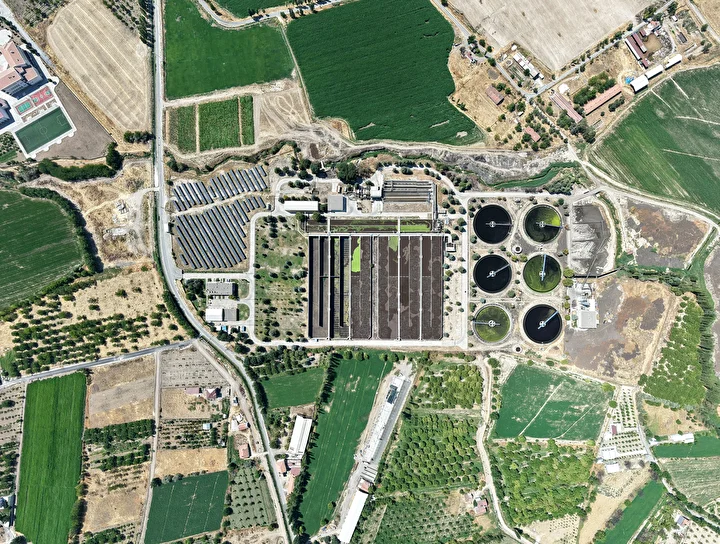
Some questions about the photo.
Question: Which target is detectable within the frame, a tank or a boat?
tank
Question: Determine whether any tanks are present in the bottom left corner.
No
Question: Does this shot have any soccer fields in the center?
No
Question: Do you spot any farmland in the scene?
Yes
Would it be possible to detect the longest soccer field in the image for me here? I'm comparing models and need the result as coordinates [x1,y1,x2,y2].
[15,108,72,153]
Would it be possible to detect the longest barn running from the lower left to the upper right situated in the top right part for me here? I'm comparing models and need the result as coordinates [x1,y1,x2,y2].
[584,84,623,115]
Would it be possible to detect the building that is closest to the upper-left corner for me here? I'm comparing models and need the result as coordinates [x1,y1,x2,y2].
[0,40,38,97]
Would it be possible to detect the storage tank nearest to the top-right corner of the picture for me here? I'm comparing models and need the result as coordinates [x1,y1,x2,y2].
[522,205,562,244]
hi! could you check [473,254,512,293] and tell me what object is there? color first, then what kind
black storage tank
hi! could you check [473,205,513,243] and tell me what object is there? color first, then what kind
black storage tank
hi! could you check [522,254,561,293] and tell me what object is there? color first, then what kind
green storage tank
